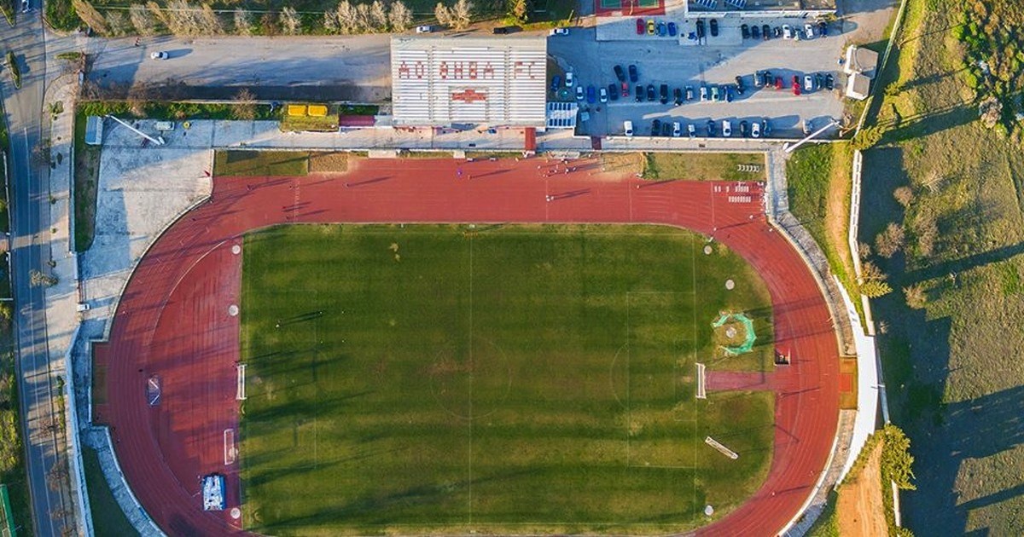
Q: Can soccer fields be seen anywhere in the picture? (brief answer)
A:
Yes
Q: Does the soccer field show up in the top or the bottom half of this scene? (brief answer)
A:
bottom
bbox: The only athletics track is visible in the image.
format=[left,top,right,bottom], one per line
[91,158,841,537]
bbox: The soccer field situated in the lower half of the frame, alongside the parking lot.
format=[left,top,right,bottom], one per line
[240,224,774,534]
